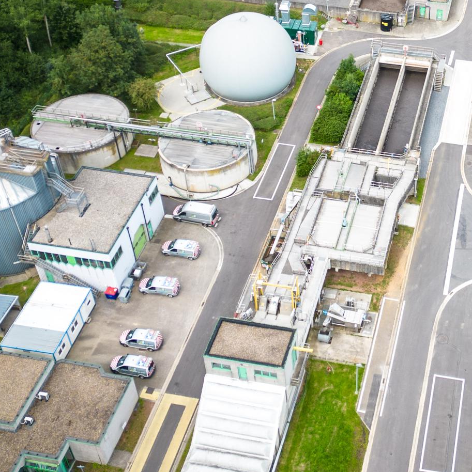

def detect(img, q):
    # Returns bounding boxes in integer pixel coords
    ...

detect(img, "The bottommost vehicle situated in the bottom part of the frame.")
[108,351,156,378]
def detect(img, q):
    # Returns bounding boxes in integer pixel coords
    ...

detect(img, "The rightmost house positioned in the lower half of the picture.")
[204,317,316,392]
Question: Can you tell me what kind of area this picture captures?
industrial area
